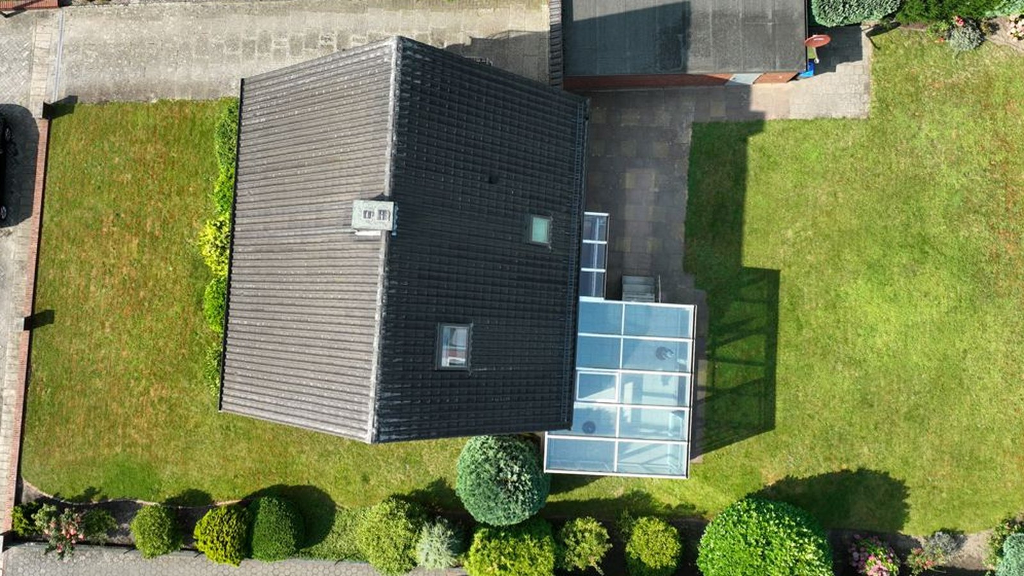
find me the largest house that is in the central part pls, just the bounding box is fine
[216,42,593,447]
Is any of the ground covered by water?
No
